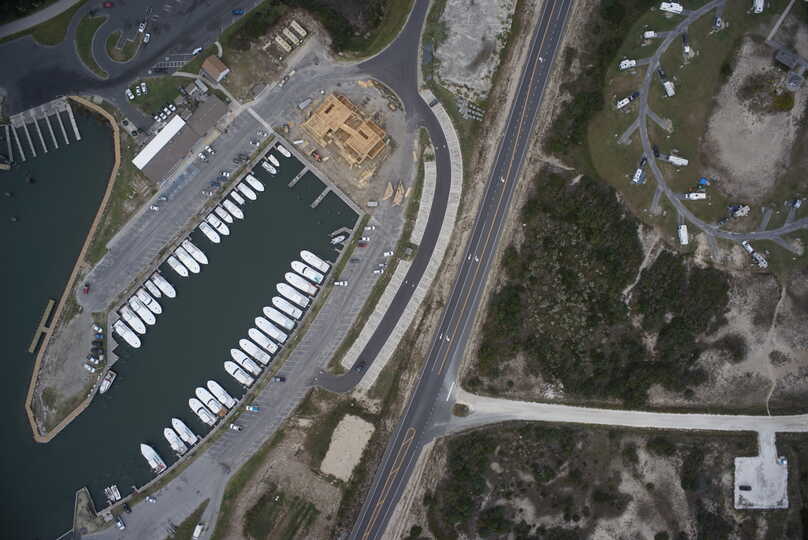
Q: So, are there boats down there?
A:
Yes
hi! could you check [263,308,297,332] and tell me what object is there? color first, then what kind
white boat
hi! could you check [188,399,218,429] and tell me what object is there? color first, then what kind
white boat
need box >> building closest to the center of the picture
[300,91,385,161]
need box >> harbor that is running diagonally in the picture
[56,139,363,540]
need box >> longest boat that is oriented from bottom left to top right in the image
[99,369,117,394]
